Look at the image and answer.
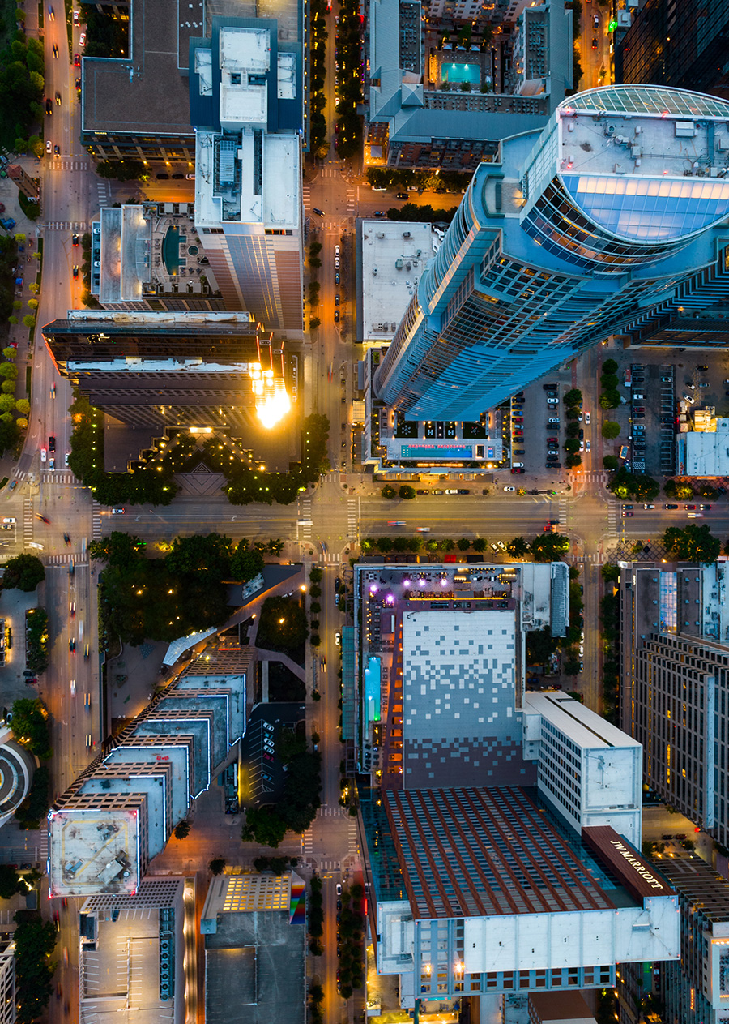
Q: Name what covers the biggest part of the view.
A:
buildings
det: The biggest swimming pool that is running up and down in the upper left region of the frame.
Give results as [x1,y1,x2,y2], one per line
[164,226,179,274]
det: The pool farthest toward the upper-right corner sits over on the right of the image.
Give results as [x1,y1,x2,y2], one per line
[441,64,480,83]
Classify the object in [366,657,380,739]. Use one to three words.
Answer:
swimming pool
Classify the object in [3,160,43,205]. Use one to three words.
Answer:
building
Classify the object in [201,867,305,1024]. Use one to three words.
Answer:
building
